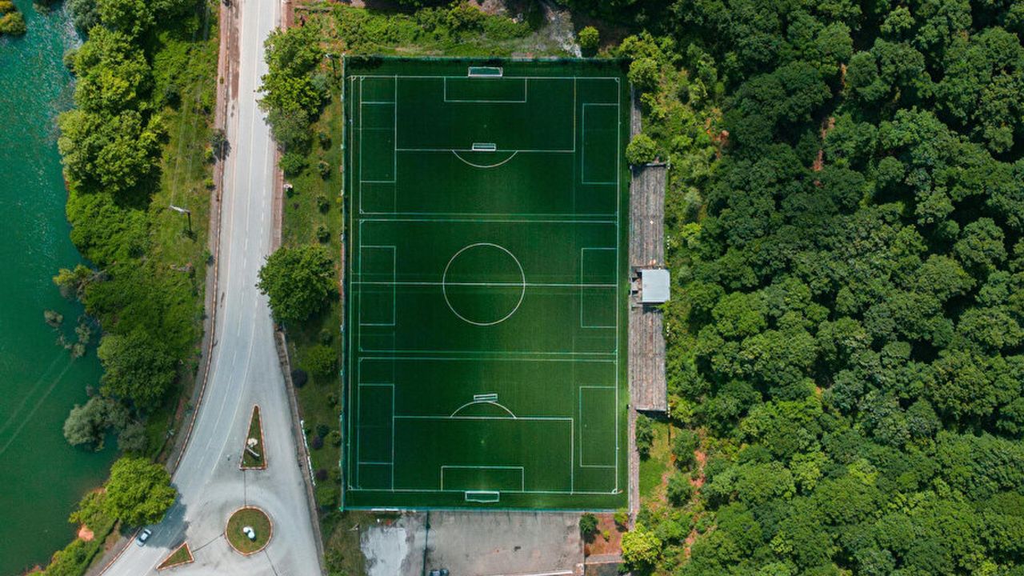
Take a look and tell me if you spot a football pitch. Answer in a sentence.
Yes, this view includes a football pitch.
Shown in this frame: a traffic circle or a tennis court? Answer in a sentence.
This aerial view contains a traffic circle.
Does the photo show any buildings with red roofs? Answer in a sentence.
No, no building with a red roof can be seen from above.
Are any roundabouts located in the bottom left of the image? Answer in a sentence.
Yes, a roundabout appears in the bottom left of the image.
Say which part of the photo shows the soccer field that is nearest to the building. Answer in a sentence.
You can find the soccer field that is nearest to the building in the center area of the picture.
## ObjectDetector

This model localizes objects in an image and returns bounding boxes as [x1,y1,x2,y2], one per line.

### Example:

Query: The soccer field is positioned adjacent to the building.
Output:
[345,62,630,510]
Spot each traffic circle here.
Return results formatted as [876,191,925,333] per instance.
[224,506,273,555]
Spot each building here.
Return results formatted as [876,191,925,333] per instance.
[632,269,671,302]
